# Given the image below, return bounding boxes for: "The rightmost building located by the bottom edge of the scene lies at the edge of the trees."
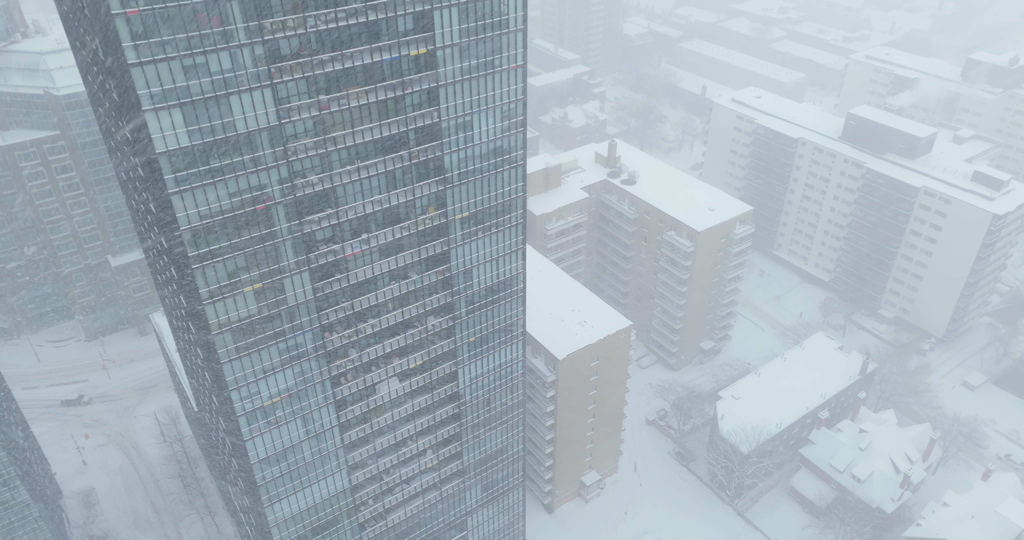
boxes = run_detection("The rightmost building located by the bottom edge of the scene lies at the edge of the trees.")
[908,455,1024,540]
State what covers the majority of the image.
buildings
